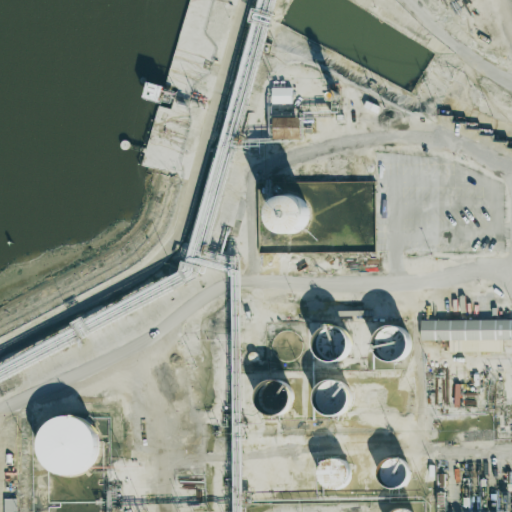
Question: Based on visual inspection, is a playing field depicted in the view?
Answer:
No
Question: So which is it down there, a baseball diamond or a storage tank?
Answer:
storage tank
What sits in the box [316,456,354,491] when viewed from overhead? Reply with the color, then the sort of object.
white storage tank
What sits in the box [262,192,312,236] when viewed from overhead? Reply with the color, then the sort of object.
white storage tank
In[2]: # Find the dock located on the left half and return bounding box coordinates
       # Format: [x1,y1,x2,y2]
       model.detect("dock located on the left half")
[142,0,233,179]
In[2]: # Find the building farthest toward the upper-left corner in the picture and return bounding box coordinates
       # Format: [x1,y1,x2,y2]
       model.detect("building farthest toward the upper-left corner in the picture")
[142,81,168,104]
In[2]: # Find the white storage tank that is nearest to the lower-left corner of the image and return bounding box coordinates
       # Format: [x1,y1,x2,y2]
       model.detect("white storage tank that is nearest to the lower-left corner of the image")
[34,414,102,479]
